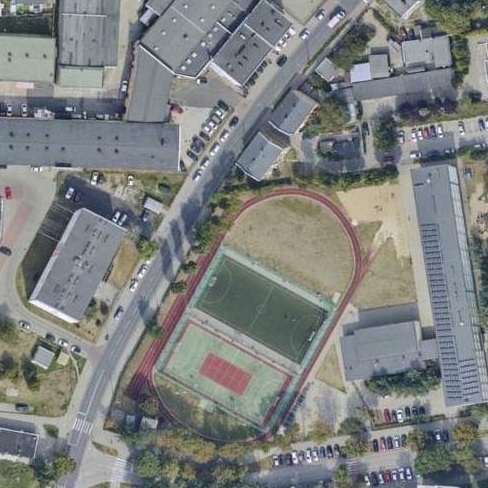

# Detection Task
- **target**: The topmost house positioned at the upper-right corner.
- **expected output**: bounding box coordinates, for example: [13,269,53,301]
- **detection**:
[387,0,419,18]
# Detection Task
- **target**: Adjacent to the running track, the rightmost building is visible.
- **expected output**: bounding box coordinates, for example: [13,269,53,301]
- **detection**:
[410,165,488,406]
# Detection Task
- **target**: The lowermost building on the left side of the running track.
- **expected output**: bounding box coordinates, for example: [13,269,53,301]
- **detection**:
[0,427,39,464]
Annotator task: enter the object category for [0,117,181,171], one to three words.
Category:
building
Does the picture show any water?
No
